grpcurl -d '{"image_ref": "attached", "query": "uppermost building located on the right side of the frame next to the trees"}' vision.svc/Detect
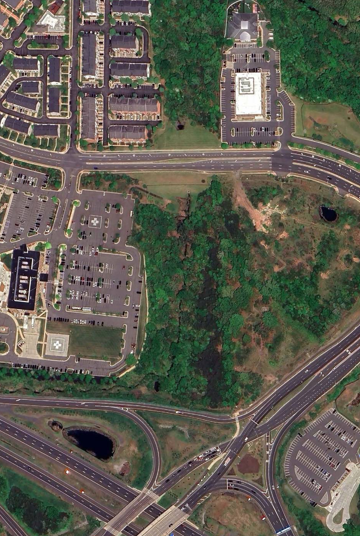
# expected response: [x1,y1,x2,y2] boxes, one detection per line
[227,12,258,41]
